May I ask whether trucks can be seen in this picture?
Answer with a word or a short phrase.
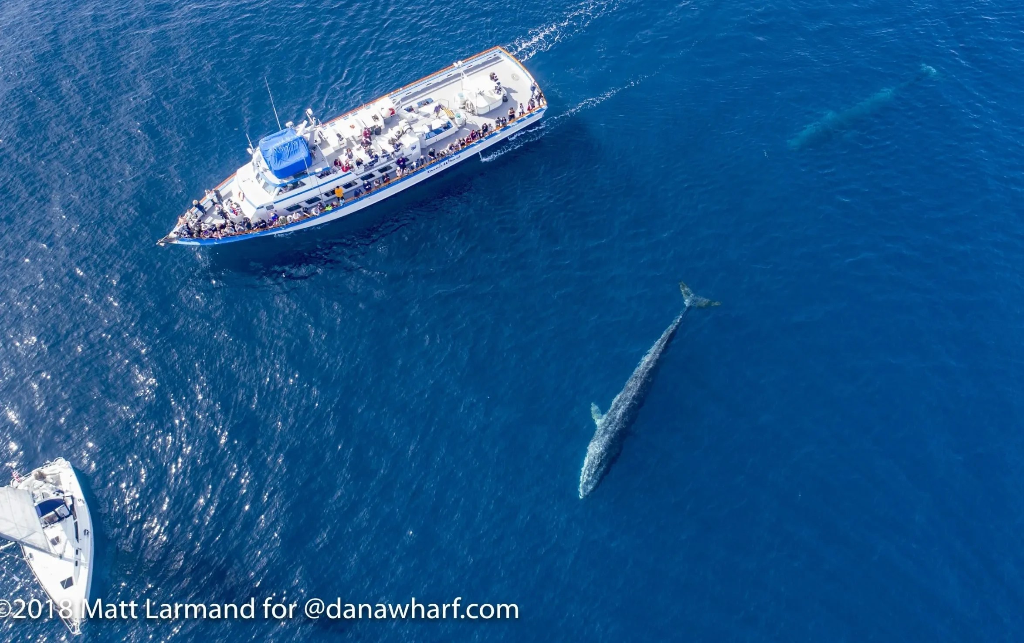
No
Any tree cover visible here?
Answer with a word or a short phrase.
No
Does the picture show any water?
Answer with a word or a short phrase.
Yes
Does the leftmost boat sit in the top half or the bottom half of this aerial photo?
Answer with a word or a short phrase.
bottom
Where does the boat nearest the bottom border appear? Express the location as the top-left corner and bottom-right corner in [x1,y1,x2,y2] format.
[0,459,91,634]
